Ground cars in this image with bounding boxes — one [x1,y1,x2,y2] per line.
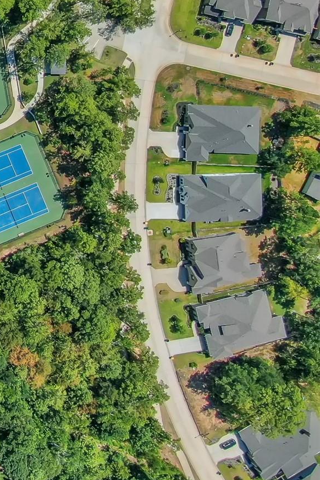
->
[227,22,235,36]
[221,440,236,450]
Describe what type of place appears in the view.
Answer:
residential area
